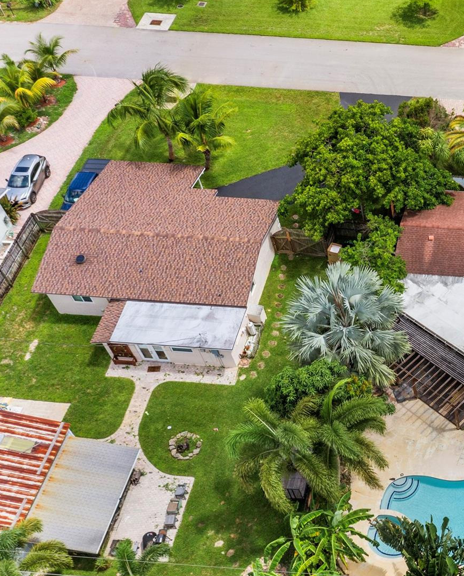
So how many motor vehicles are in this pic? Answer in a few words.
two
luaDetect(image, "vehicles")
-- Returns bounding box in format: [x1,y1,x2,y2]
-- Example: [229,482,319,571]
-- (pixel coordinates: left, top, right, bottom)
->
[66,152,121,213]
[2,153,50,209]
